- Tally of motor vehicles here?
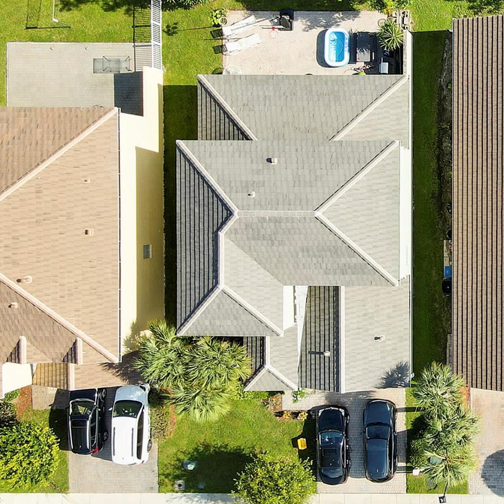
four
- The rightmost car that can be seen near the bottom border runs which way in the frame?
vertically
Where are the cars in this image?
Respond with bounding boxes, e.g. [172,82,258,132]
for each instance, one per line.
[360,397,400,481]
[316,403,355,487]
[113,380,158,466]
[67,388,112,461]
